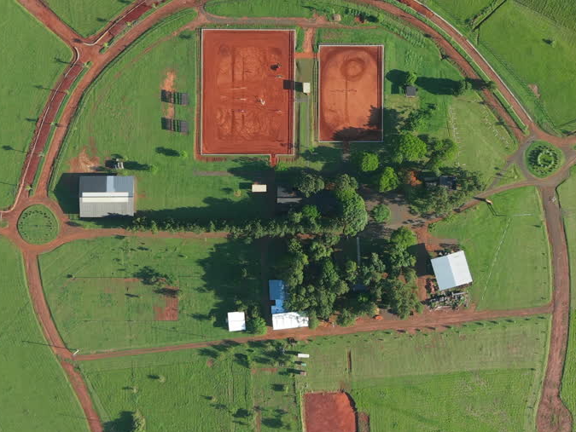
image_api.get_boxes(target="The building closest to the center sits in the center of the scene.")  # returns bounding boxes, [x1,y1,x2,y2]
[277,185,304,204]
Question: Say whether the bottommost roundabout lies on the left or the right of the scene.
left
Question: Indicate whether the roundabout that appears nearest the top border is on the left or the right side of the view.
right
